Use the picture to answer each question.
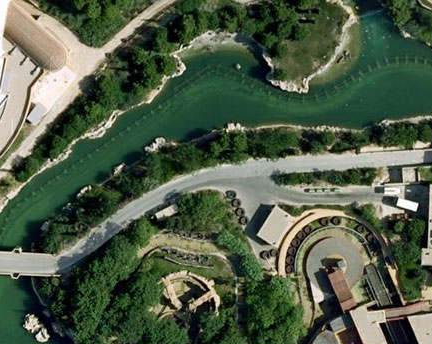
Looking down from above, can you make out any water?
Yes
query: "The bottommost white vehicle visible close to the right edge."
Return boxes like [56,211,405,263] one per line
[394,198,418,210]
